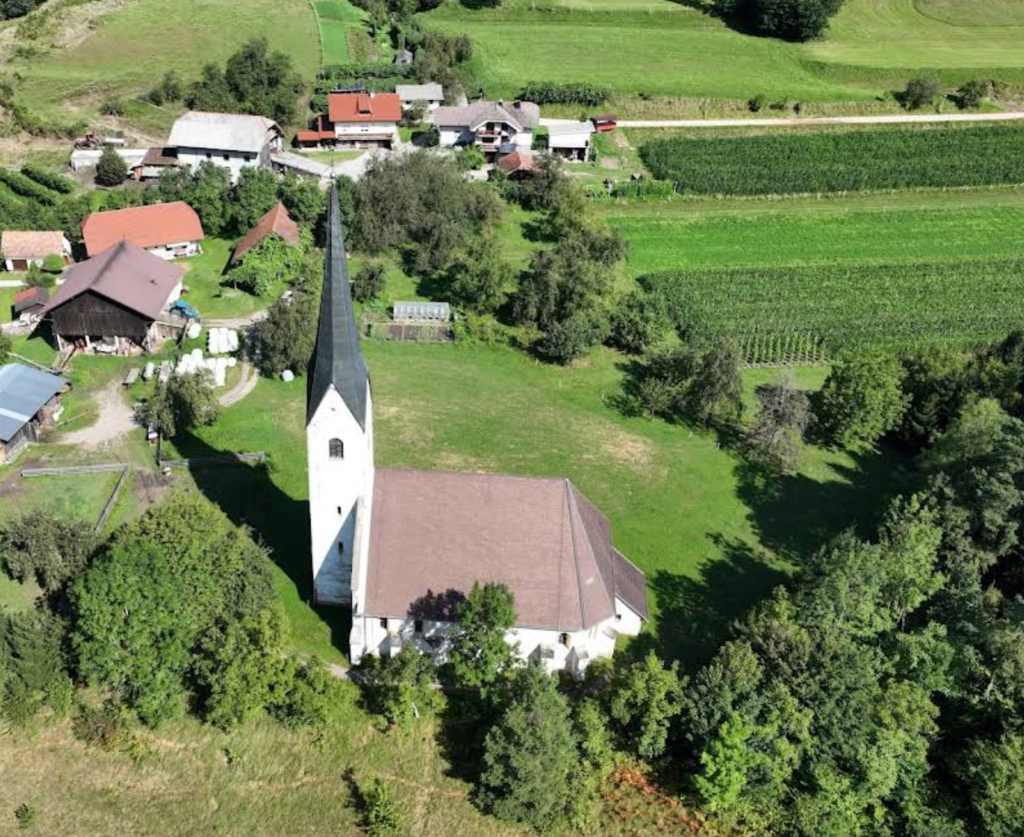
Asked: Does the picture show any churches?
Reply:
Yes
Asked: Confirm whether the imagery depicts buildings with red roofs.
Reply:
Yes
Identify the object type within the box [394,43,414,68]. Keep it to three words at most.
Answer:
shed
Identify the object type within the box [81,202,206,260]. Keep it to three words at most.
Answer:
house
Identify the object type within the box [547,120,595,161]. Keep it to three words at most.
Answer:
building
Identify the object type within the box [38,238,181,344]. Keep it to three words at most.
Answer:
barn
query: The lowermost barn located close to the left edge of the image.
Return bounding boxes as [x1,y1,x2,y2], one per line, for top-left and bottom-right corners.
[0,356,67,461]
